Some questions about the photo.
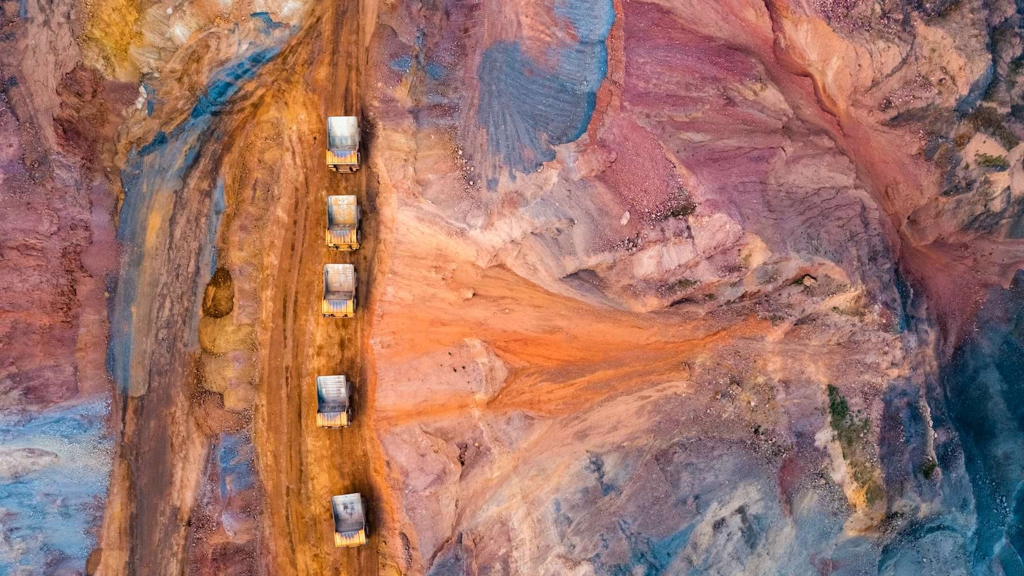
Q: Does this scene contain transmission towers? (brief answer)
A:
No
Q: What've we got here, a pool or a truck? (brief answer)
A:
truck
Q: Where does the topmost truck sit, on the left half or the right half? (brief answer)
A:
left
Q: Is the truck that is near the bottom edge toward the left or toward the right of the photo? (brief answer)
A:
left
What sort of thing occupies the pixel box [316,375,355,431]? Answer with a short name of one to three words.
truck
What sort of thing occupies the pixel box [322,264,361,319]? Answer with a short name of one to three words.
truck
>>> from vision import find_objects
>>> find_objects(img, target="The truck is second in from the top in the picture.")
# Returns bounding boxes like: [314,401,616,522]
[324,195,363,252]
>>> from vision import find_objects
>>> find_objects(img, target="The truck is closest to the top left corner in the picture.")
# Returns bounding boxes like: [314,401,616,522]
[324,116,364,175]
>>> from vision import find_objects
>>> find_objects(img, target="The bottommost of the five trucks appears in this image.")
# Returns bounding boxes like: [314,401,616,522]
[332,491,373,549]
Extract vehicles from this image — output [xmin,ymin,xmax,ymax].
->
[324,195,363,252]
[332,491,373,549]
[316,375,355,431]
[324,116,364,175]
[322,264,361,319]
